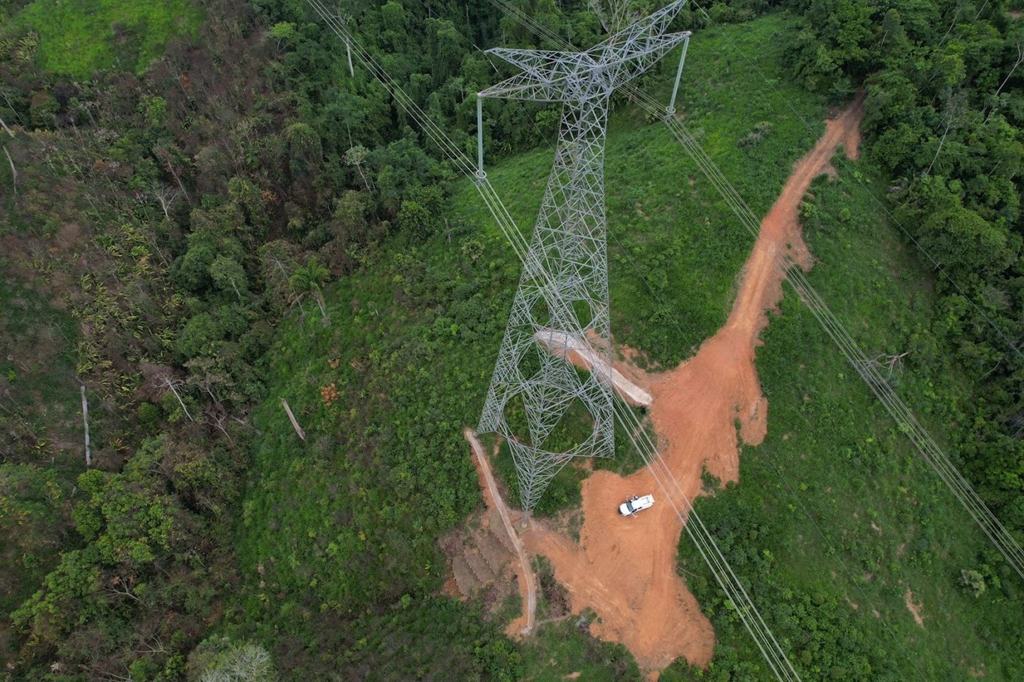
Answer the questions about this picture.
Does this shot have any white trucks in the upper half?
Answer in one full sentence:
No, there is no white truck in the upper half.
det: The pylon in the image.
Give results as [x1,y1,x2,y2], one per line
[475,0,691,520]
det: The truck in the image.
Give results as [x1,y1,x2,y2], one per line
[617,493,655,518]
